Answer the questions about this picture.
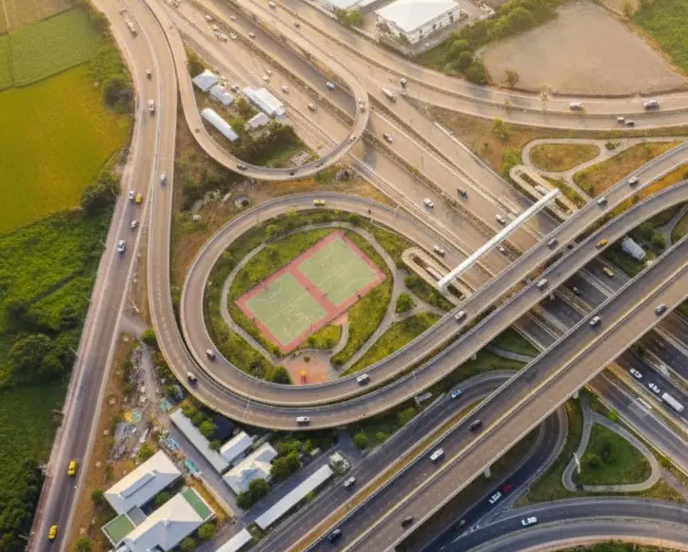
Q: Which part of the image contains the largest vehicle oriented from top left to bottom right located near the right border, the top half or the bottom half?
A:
bottom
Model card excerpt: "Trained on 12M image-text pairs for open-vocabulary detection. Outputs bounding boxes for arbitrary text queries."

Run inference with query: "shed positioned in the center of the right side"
[623,240,646,264]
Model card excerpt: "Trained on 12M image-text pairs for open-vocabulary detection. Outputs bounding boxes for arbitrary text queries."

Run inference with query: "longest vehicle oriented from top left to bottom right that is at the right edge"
[661,392,683,412]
